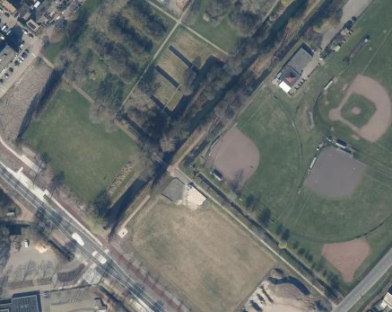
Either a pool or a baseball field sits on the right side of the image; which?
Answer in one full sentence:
You can see a baseball field on the right side of the image.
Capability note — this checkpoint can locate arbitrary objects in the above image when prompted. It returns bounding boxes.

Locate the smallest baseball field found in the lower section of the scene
[321,238,368,282]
